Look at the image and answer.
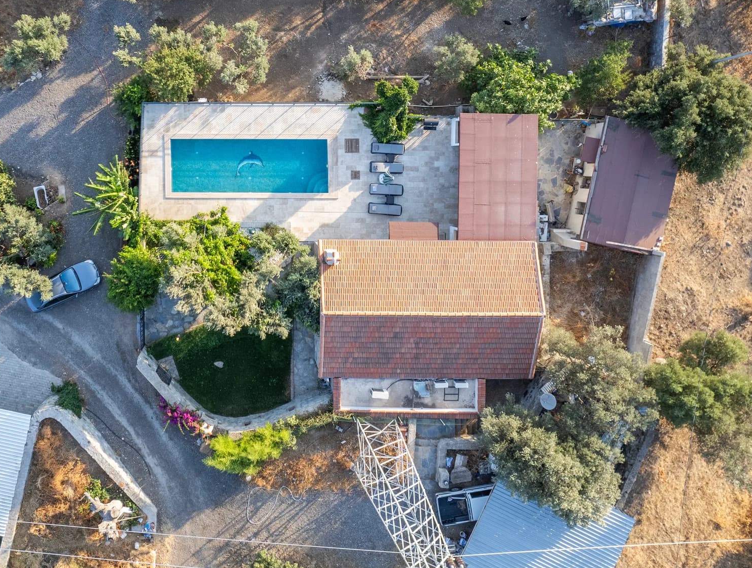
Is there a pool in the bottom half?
No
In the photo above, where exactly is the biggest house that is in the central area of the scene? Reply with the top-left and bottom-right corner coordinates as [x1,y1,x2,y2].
[317,238,546,424]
